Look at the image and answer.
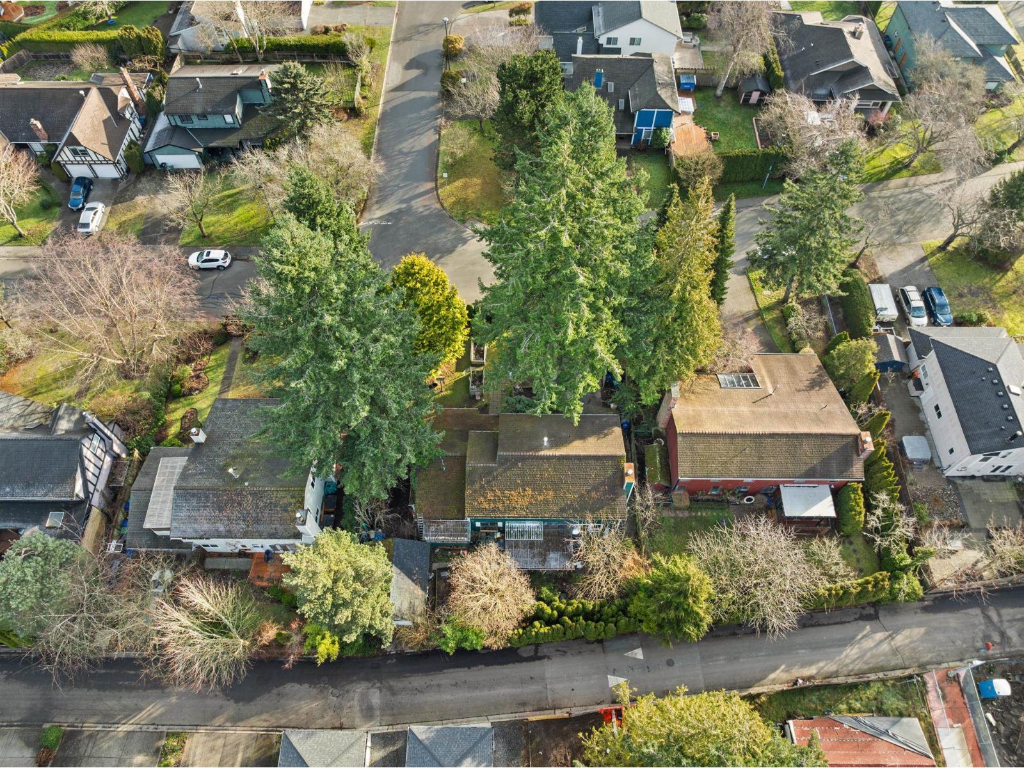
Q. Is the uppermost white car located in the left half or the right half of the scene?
left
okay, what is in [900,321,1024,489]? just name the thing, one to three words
house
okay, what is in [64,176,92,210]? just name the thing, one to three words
car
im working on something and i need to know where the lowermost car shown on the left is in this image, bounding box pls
[186,249,232,272]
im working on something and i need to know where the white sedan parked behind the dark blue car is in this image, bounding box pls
[73,203,108,235]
